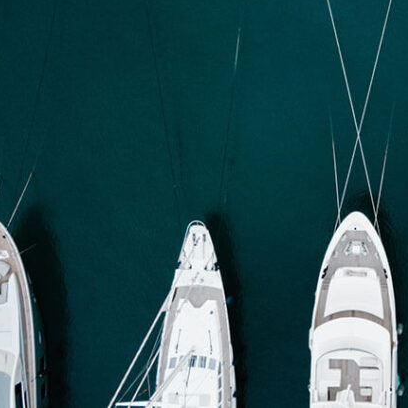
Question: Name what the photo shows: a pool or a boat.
boat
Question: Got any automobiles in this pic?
No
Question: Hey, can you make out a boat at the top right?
No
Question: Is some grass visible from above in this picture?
No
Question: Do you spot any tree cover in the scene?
No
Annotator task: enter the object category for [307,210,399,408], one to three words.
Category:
boat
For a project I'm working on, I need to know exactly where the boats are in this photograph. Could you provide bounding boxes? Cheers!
[0,217,50,408]
[111,220,238,408]
[307,210,399,408]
